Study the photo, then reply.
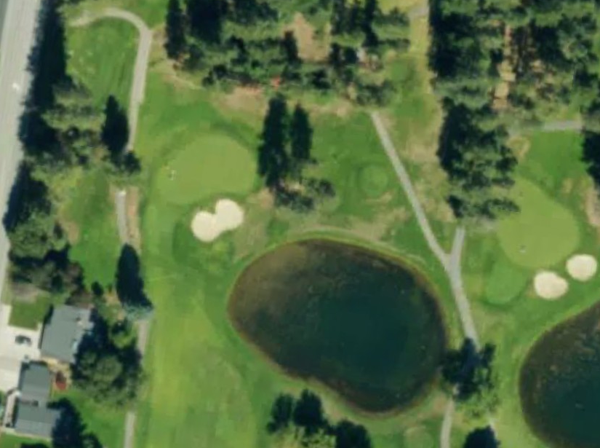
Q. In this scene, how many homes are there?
two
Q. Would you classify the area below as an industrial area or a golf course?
golf course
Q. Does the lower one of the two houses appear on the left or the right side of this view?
left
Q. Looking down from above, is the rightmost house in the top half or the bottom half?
bottom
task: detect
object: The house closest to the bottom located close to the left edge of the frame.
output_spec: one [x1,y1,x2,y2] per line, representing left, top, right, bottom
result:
[14,362,60,437]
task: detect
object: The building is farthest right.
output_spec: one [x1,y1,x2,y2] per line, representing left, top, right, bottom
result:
[42,302,89,360]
